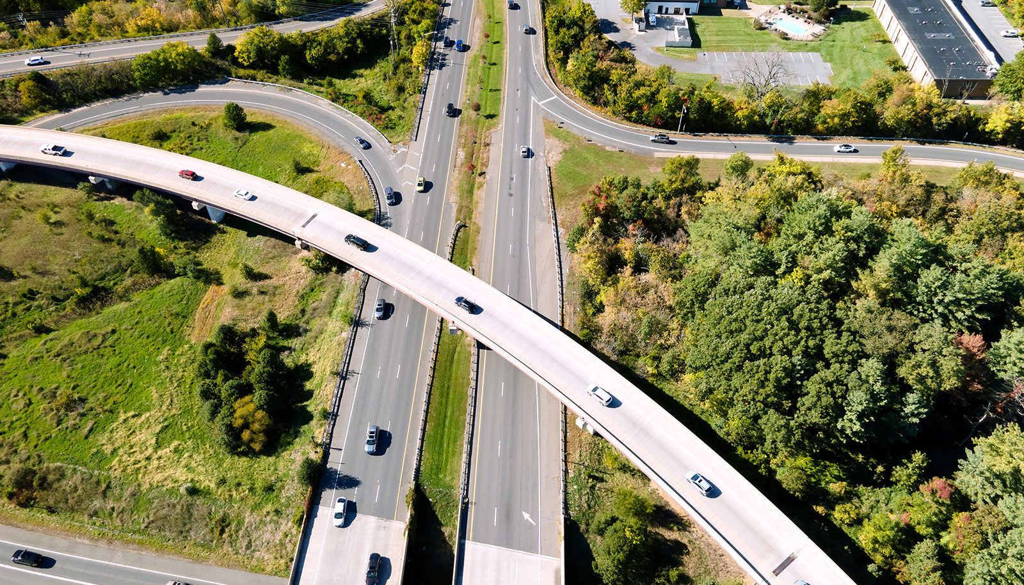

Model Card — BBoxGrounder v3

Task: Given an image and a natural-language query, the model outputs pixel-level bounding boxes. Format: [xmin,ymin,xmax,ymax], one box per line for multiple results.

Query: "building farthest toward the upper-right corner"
[868,0,997,99]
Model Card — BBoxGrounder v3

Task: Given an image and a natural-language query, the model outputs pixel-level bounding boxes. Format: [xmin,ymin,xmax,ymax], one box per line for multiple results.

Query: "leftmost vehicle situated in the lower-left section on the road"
[10,550,44,568]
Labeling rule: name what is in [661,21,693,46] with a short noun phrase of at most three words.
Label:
shed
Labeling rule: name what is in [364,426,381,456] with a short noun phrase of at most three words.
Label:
car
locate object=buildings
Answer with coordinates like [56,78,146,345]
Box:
[661,21,693,46]
[868,0,997,99]
[644,0,702,13]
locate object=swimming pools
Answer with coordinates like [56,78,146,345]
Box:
[766,7,827,40]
